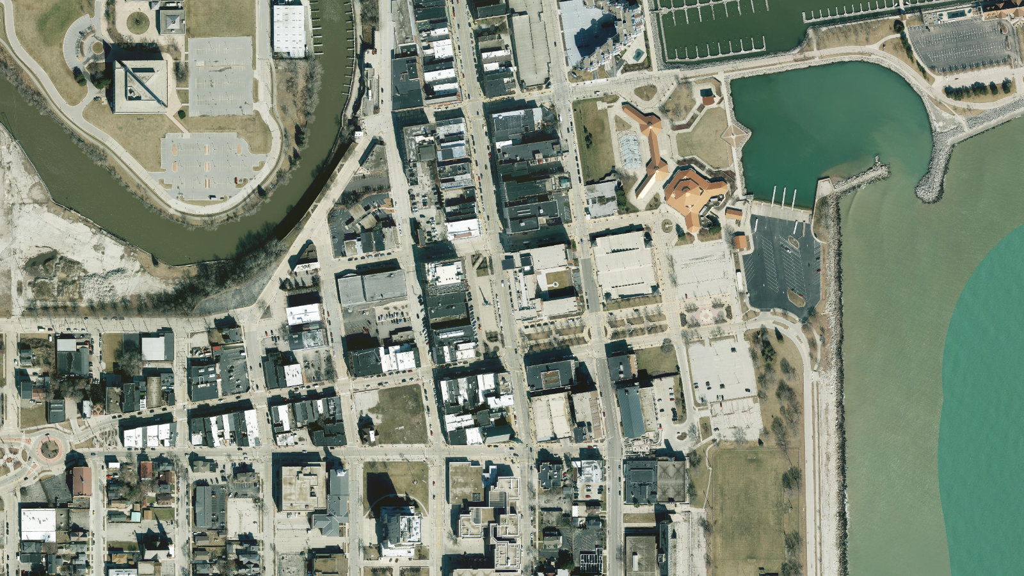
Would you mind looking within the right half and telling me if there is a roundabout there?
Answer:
No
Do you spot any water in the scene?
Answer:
Yes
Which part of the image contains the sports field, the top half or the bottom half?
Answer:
bottom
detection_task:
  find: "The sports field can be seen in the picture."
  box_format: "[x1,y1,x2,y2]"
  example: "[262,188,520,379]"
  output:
[713,449,804,576]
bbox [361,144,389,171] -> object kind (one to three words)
building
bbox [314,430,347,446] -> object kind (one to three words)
building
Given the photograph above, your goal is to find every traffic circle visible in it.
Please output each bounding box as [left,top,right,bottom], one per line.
[27,426,71,469]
